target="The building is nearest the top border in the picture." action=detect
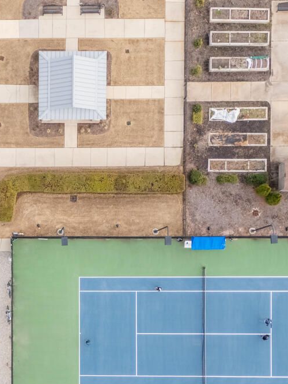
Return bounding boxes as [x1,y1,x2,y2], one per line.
[38,51,107,123]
